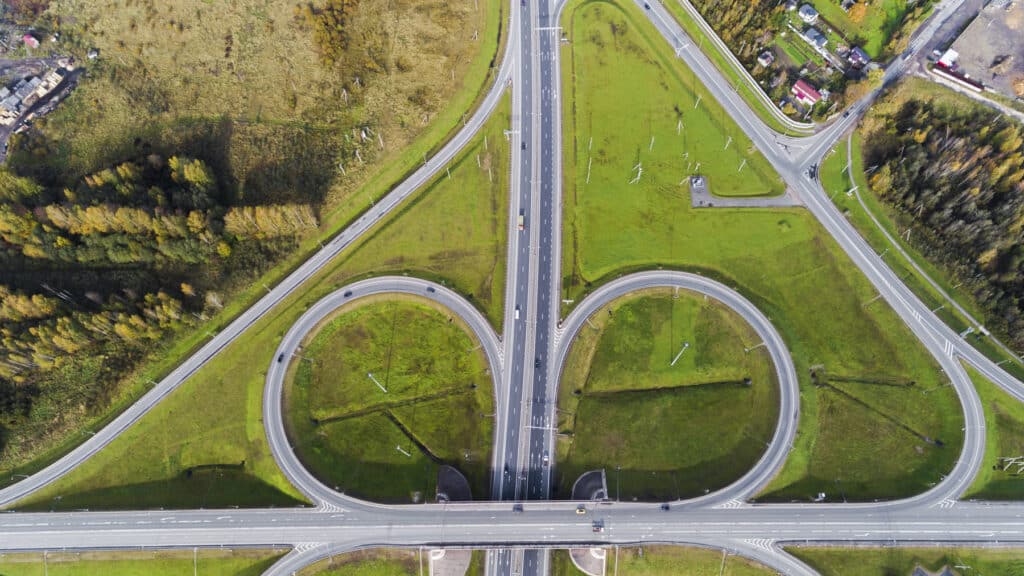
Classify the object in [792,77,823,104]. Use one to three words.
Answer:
house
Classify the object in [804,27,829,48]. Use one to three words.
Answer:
house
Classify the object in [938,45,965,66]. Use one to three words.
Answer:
building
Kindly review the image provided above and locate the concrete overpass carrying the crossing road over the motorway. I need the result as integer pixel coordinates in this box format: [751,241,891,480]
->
[430,500,613,550]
